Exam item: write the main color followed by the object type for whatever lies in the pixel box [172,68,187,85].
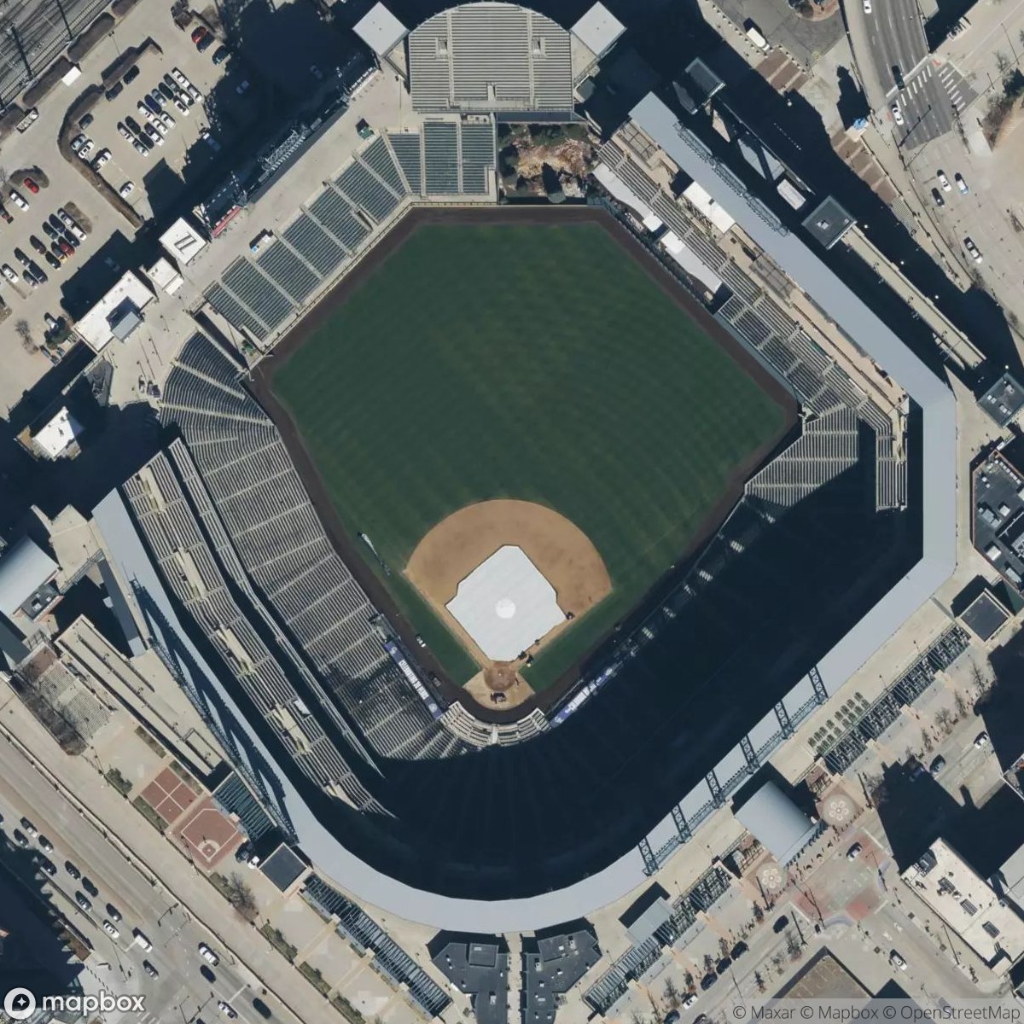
white car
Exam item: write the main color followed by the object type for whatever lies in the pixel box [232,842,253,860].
black vehicle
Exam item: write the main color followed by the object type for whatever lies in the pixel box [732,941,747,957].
black car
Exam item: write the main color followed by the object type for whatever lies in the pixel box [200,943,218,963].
white vehicle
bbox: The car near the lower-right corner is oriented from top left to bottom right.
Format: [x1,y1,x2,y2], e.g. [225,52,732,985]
[891,952,907,970]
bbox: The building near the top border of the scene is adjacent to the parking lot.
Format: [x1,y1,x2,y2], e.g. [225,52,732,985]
[353,3,410,59]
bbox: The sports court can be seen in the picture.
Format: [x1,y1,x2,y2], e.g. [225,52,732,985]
[141,767,198,825]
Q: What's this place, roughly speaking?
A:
sports ground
